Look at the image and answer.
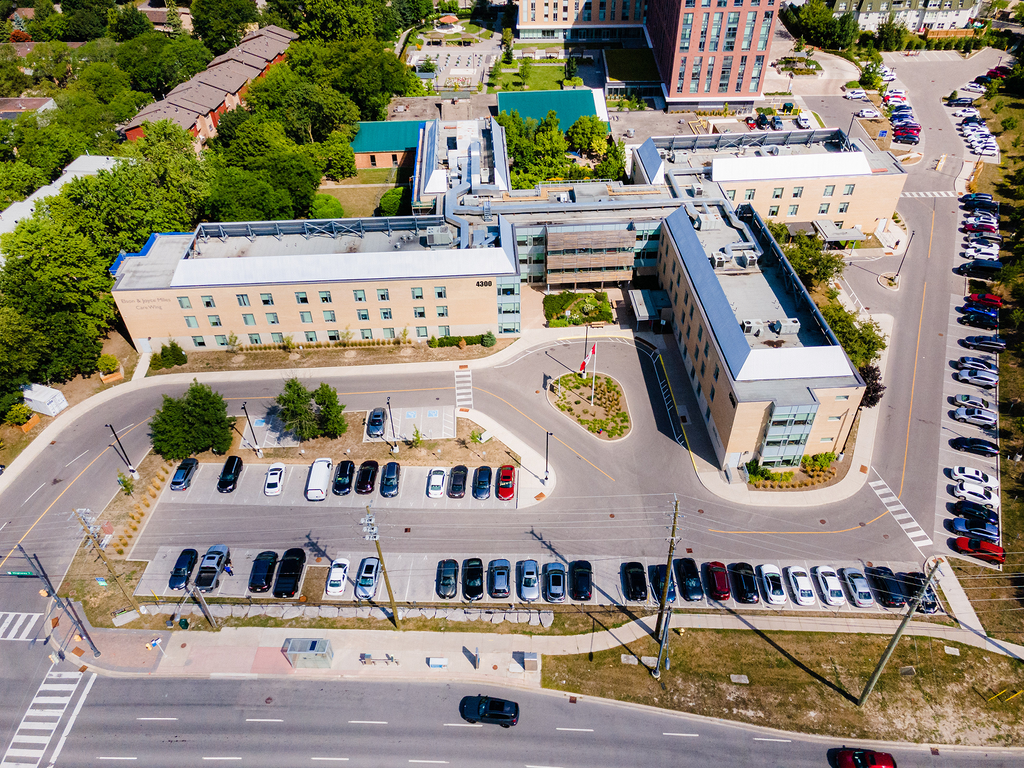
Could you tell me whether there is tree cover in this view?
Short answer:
Yes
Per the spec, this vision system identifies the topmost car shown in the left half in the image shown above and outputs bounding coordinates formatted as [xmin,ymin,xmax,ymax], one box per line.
[366,408,387,437]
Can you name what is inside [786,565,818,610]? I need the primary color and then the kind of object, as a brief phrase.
white car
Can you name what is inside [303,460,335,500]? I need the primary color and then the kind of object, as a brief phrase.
white van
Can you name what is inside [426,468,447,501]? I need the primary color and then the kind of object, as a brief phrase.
white car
